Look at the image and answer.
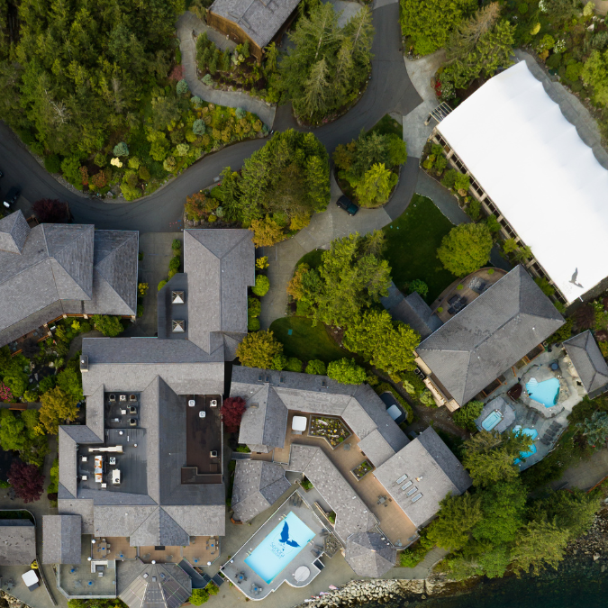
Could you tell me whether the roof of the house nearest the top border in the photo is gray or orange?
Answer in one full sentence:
The color of the roof of the house nearest the top border is gray.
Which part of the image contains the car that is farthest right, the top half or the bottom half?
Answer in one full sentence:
You can find the car that is farthest right in the top half.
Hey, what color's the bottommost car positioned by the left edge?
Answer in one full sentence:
The color of the bottommost car positioned by the left edge is black.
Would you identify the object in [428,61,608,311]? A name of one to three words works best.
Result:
building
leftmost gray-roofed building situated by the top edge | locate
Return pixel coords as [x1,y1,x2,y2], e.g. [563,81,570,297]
[208,0,303,54]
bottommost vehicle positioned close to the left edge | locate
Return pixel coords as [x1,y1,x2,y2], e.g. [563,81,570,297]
[0,183,23,207]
